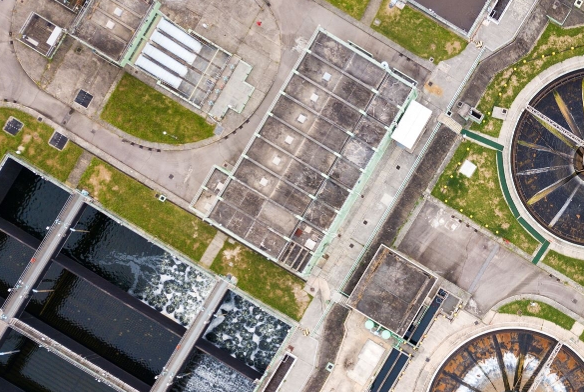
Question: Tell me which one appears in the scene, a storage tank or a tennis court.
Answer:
storage tank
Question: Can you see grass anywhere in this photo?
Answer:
Yes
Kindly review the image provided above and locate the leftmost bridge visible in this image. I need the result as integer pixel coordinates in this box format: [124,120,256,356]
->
[0,191,77,324]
